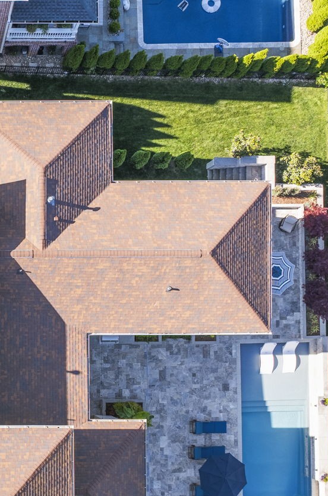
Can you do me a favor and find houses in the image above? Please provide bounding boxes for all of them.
[0,0,113,55]
[0,98,275,496]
